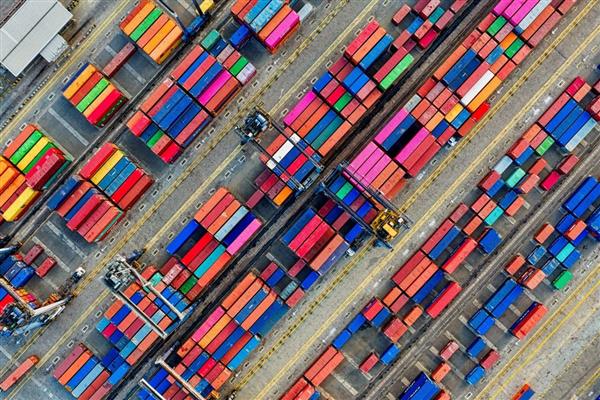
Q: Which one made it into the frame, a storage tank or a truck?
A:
truck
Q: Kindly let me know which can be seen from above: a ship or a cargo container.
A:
cargo container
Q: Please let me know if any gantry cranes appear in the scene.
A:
Yes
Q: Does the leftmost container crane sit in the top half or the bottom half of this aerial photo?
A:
bottom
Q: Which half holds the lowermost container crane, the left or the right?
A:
left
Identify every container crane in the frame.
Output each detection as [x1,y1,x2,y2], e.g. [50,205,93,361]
[231,102,325,197]
[139,336,240,400]
[96,243,206,339]
[313,159,411,249]
[152,0,209,43]
[0,282,74,340]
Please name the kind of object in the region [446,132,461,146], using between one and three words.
vehicle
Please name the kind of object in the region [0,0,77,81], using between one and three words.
building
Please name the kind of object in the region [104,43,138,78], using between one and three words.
shipping container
